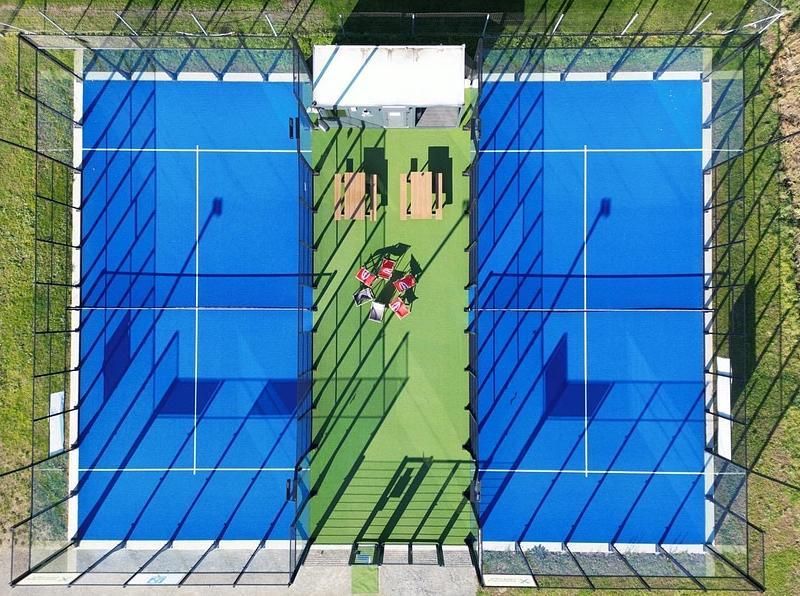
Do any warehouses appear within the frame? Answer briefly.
No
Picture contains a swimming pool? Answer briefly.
No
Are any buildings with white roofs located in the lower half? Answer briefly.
No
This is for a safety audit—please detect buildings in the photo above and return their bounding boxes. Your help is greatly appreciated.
[312,41,466,130]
